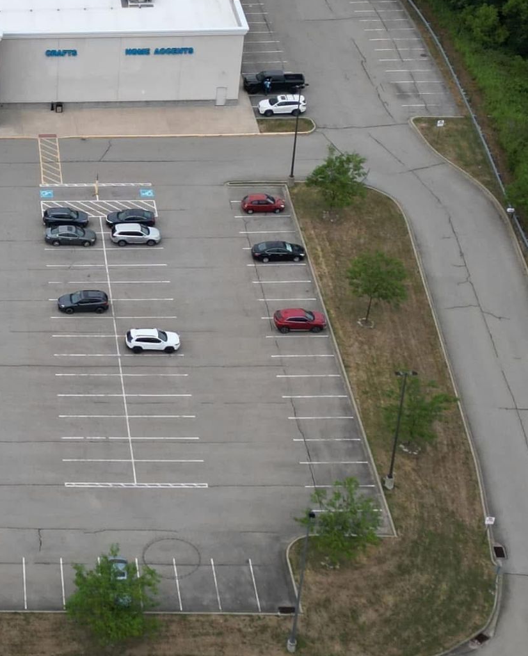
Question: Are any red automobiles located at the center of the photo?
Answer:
Yes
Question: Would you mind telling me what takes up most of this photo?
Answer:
paved ground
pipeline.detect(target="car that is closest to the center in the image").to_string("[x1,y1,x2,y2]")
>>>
[270,308,326,333]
